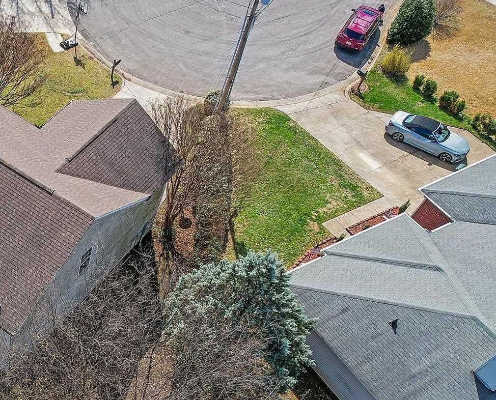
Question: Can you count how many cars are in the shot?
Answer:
2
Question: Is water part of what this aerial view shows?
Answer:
No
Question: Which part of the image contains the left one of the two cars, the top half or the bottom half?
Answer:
top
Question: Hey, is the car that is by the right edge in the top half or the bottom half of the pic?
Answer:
top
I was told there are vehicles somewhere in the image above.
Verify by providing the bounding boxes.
[338,6,387,53]
[388,107,473,160]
